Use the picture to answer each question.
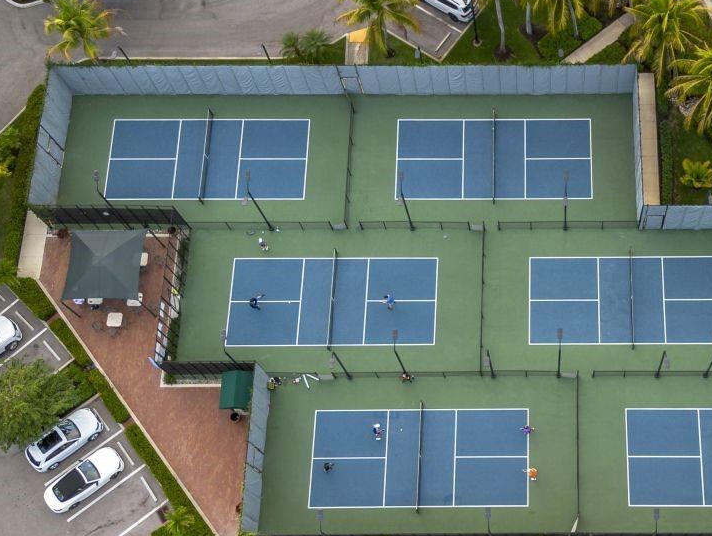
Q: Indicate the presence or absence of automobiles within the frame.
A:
Yes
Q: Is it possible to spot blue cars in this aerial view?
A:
No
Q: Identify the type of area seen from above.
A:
sports ground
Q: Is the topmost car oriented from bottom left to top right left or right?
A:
left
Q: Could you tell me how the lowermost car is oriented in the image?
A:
on a diagonal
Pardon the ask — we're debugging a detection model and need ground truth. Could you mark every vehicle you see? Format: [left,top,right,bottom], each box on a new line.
[25,409,103,472]
[0,319,23,359]
[43,449,126,516]
[415,0,478,22]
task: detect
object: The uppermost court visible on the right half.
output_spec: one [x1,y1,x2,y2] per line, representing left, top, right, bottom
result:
[347,93,638,229]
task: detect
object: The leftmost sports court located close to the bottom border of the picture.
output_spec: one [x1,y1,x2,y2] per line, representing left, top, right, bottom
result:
[259,376,578,535]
